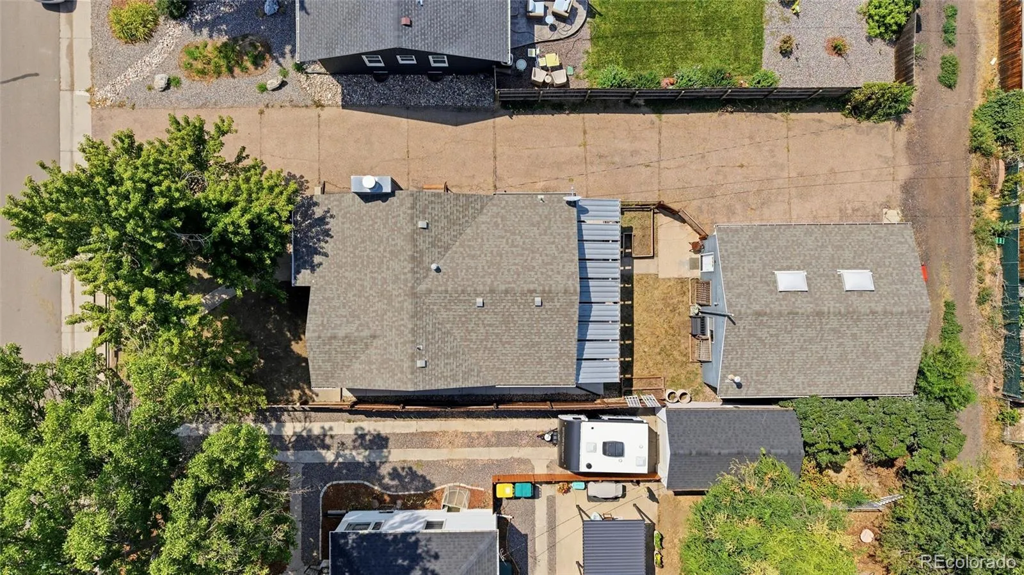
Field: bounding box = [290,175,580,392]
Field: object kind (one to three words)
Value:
house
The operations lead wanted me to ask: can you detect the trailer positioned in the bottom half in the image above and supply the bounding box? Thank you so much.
[536,411,649,474]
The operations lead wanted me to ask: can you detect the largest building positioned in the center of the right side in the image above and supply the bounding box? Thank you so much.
[700,222,931,400]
